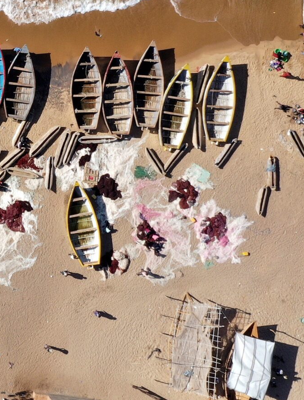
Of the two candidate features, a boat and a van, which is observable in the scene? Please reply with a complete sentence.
The image shows a boat.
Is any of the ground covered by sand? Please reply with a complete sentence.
Yes, some sand is visible.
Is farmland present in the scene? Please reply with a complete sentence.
No, there's no farmland in this view.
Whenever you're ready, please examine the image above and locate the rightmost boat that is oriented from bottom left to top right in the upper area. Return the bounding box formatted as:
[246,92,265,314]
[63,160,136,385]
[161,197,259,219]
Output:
[214,138,237,168]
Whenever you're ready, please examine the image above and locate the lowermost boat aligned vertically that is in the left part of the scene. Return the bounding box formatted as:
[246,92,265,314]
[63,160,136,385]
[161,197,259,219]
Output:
[65,181,101,269]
